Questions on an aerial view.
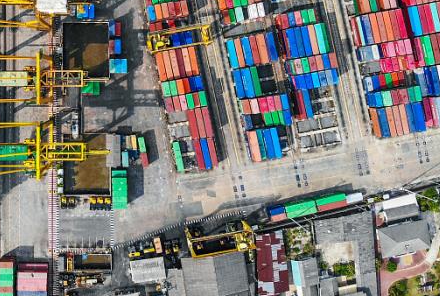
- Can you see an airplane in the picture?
No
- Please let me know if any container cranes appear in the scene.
Yes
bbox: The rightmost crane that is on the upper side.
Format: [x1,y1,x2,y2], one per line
[143,23,214,60]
